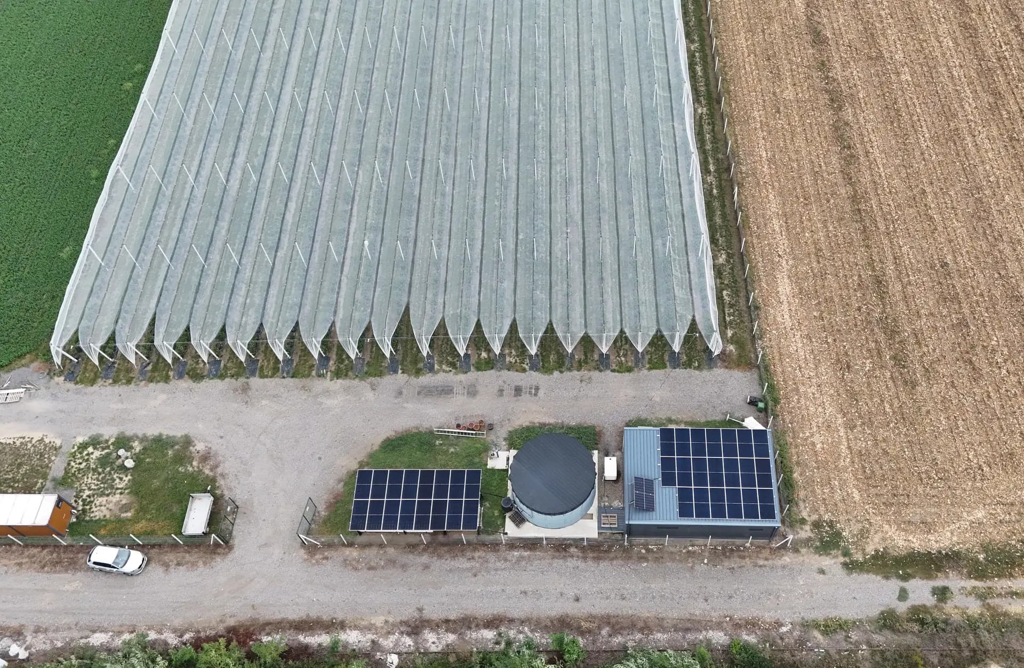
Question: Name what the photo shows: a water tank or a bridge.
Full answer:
This aerial view contains a water tank.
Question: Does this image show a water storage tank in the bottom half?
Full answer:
Yes, the scene does show a water storage tank in the bottom half.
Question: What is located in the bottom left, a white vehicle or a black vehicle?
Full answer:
Visible in the bottom left is a white vehicle.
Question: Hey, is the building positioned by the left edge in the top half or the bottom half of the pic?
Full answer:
The building positioned by the left edge sits in the bottom half of the picture.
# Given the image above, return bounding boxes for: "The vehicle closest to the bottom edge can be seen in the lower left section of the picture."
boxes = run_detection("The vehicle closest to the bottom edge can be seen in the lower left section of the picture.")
[85,542,150,575]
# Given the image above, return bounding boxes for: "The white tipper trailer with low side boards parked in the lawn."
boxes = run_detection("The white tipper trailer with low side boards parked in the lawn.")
[181,485,214,536]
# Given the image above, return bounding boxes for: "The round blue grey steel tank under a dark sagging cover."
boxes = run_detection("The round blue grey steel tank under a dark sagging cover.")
[509,433,597,528]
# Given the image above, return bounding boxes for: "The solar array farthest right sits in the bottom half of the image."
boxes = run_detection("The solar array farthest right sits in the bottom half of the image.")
[658,427,778,521]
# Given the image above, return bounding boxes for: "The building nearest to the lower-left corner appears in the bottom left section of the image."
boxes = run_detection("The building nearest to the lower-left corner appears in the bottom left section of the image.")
[0,494,76,536]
